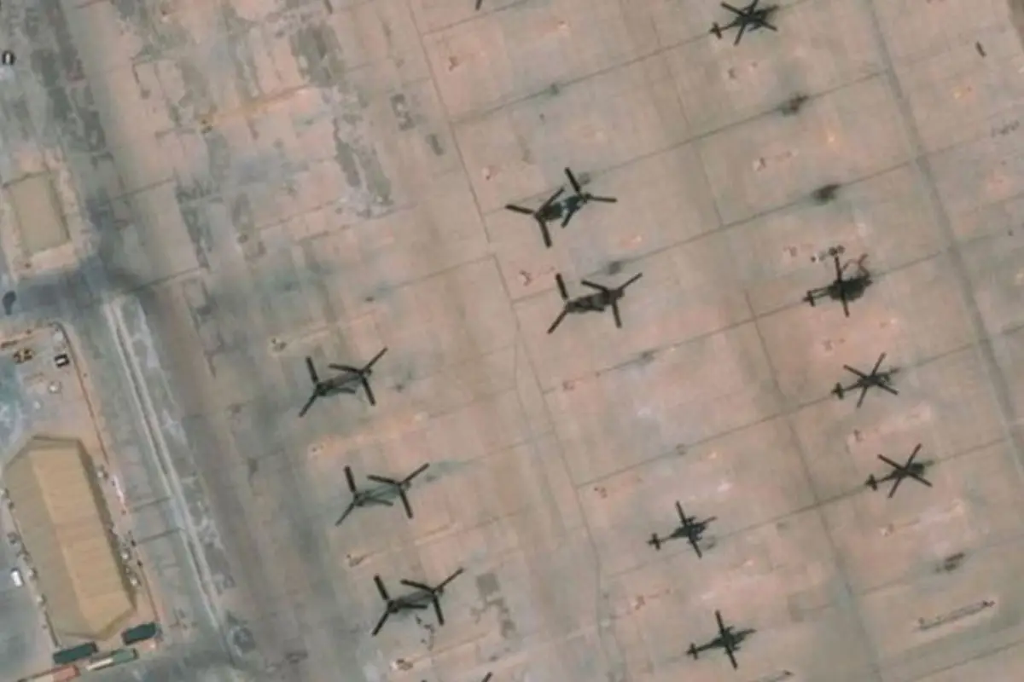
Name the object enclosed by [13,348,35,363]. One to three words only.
work vehicle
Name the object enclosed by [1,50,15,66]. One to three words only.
vehicle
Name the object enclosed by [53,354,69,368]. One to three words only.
vehicle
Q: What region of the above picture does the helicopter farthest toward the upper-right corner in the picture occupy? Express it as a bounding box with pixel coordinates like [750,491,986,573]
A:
[711,0,776,44]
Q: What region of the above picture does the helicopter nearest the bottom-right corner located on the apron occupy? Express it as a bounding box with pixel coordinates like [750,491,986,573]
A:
[866,444,931,497]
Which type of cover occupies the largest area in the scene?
paved ground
